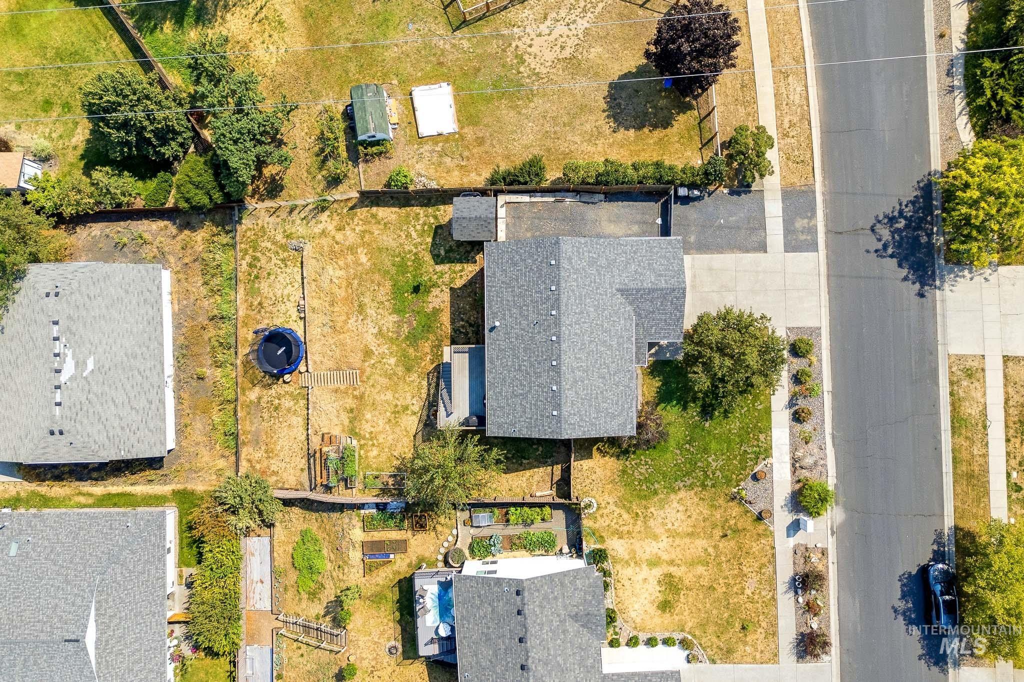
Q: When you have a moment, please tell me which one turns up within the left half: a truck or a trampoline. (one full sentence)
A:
It is a trampoline that can be seen within the left half.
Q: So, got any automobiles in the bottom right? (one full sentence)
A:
Yes, there is an automobile in the bottom right.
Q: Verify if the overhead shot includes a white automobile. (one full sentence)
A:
No, no white automobile can be seen from above.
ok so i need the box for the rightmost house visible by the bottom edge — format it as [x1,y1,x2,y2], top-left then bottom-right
[453,547,682,682]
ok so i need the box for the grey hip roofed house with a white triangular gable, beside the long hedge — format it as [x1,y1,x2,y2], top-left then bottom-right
[0,507,176,682]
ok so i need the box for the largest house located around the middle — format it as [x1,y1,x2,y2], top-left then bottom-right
[484,236,687,439]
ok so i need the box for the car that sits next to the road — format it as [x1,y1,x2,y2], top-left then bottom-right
[924,564,962,632]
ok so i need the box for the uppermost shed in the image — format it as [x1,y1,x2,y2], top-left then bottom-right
[350,82,395,146]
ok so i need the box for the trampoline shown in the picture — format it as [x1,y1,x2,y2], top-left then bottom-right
[245,323,307,381]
